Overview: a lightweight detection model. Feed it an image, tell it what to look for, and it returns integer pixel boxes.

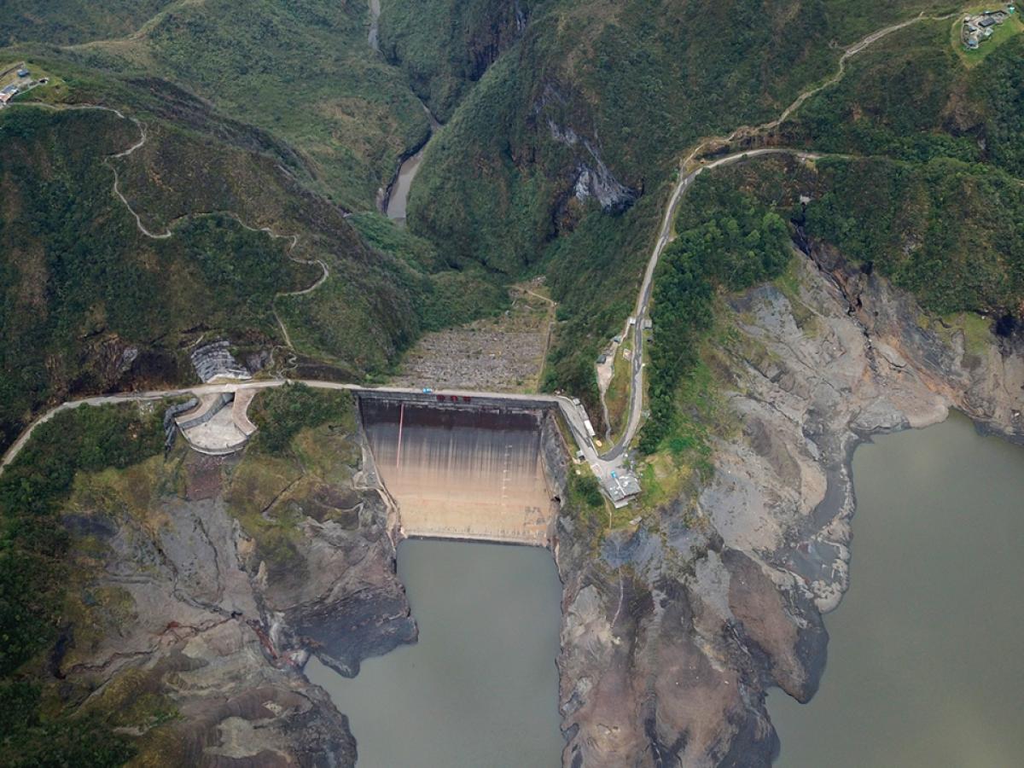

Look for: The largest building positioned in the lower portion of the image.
[605,477,642,512]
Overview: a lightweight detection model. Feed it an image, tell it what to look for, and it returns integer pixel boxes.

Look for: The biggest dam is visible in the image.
[349,281,557,552]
